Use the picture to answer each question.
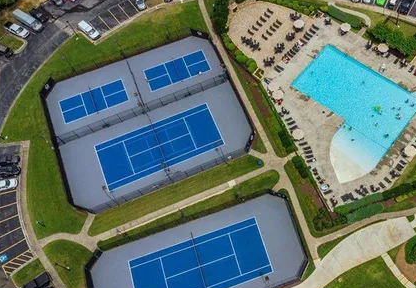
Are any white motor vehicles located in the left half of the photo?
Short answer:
Yes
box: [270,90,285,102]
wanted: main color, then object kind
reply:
white umbrella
